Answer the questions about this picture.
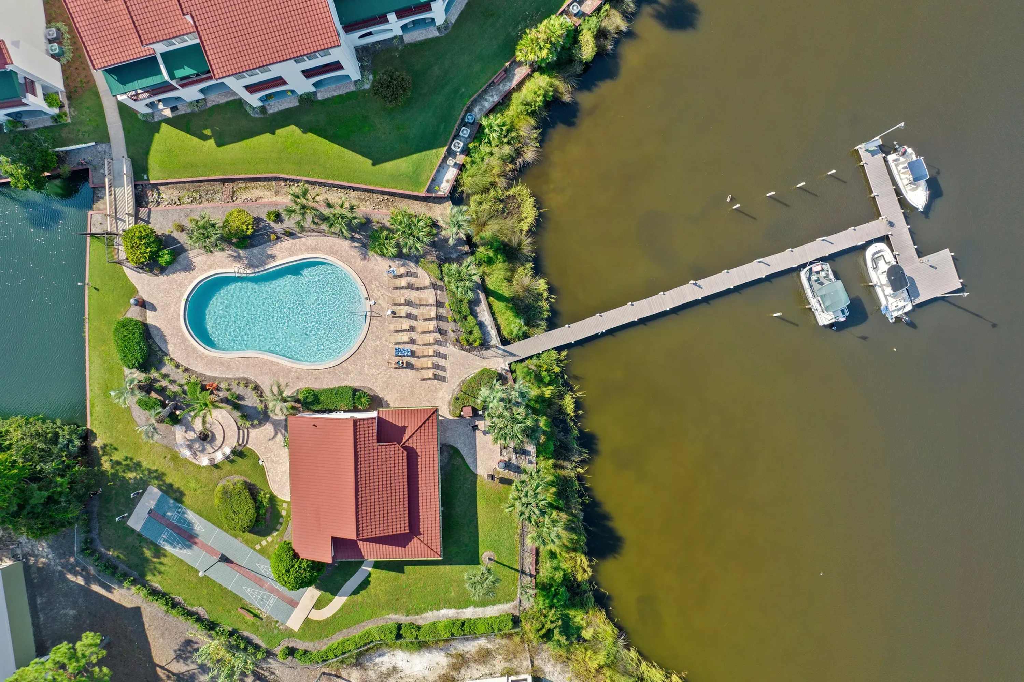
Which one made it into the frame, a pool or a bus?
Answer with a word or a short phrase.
pool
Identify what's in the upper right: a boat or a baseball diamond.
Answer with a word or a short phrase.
boat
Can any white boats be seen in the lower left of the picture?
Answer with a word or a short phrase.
No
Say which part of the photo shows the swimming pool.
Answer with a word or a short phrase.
left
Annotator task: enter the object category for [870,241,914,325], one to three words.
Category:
boat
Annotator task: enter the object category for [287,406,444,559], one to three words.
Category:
building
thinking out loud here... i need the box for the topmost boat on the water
[888,144,930,213]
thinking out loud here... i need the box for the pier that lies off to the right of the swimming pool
[502,144,962,365]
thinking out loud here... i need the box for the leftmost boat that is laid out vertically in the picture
[805,260,847,332]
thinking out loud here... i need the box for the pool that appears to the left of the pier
[180,254,379,369]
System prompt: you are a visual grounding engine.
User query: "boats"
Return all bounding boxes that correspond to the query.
[870,241,914,325]
[805,260,847,332]
[888,144,930,213]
